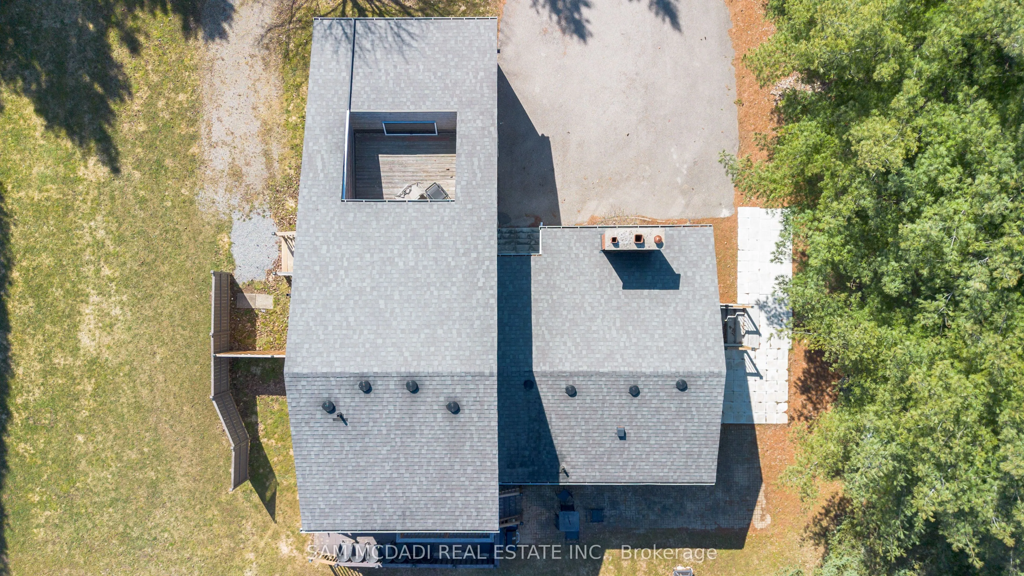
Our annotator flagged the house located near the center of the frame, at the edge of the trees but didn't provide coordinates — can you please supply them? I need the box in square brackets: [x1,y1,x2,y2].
[284,16,726,534]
